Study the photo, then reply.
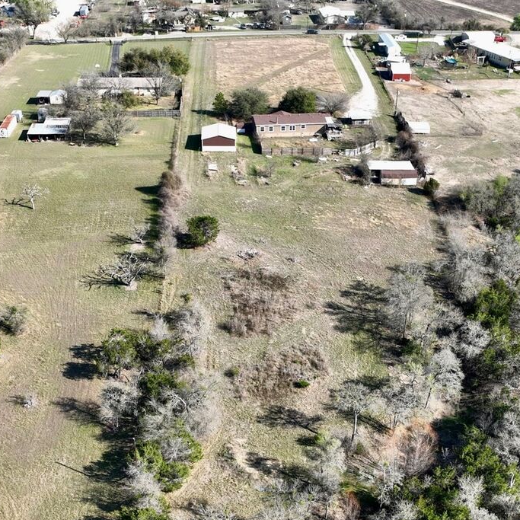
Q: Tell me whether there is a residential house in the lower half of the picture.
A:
No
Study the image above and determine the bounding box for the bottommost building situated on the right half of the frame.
[366,159,419,184]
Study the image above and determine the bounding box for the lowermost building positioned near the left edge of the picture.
[25,111,69,140]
